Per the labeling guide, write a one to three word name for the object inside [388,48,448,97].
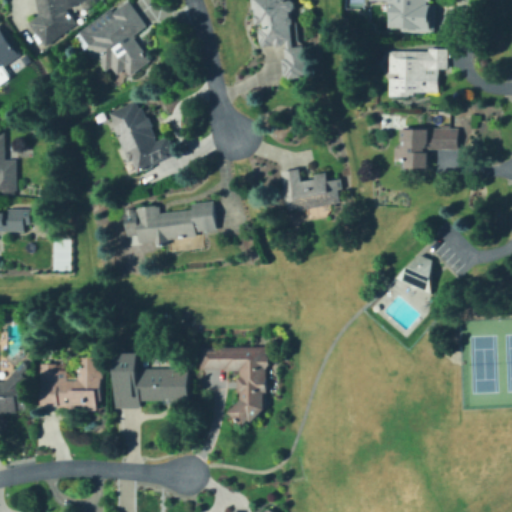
house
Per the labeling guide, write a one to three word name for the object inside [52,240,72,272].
shed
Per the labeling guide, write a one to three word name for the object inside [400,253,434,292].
building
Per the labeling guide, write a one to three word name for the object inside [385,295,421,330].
swimming pool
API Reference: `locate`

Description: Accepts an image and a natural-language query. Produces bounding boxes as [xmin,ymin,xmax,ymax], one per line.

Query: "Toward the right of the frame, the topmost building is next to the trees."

[388,0,429,31]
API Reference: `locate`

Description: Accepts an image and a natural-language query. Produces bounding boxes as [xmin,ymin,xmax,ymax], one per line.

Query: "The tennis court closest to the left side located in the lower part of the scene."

[462,319,502,409]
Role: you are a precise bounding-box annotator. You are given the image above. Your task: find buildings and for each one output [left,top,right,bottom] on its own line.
[0,360,26,414]
[394,128,460,170]
[38,355,96,410]
[288,168,342,210]
[52,240,72,272]
[0,128,16,193]
[122,202,215,252]
[388,0,429,31]
[400,253,434,292]
[198,348,268,423]
[109,100,172,176]
[30,0,86,46]
[110,354,188,408]
[78,0,148,76]
[0,208,30,235]
[250,0,305,77]
[388,48,448,97]
[0,26,22,71]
